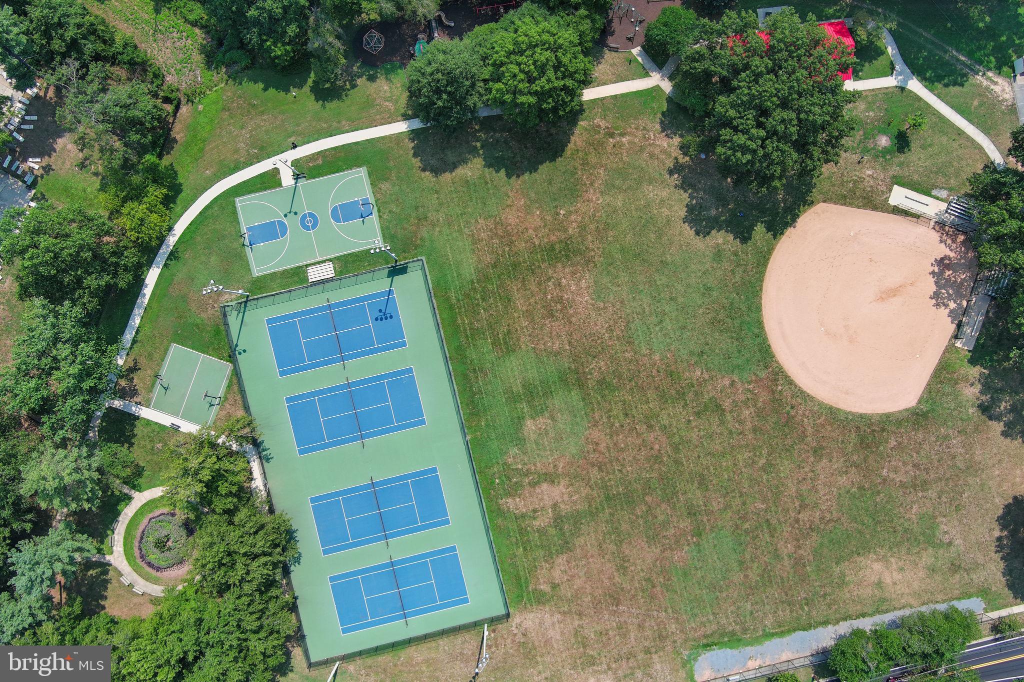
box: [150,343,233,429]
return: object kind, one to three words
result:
basketball court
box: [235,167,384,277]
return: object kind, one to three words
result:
basketball court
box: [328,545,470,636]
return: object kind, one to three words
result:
tennis court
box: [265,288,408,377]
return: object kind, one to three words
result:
tennis court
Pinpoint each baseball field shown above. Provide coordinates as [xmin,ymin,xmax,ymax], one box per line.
[761,202,977,414]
